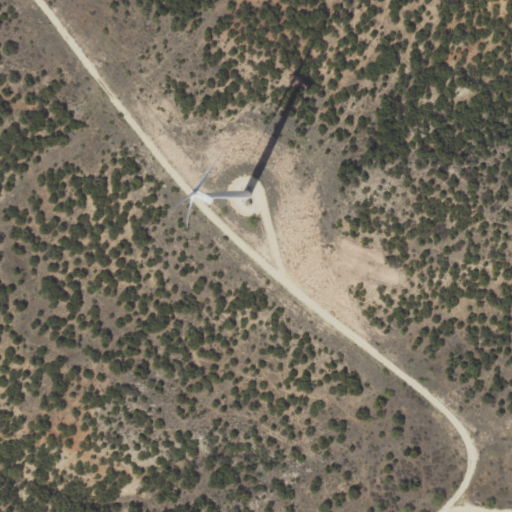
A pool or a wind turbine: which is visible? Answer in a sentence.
The image shows a wind turbine.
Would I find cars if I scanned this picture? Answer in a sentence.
No, this view has no car in it.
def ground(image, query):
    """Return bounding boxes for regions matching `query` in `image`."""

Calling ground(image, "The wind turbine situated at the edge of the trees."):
[168,137,254,226]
